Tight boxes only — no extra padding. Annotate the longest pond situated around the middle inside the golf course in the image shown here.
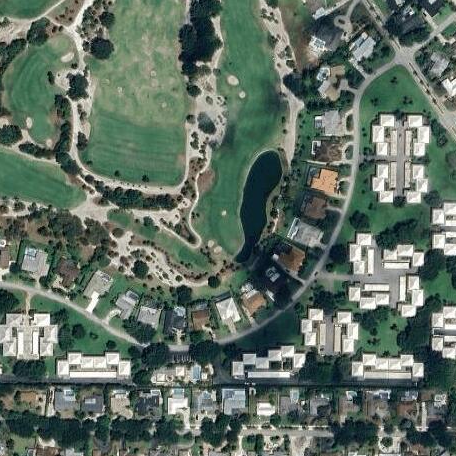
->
[237,150,281,263]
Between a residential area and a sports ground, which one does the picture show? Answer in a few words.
residential area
